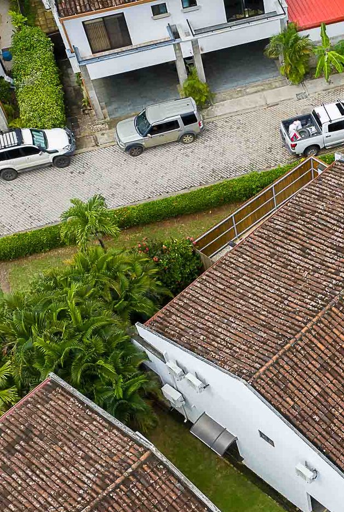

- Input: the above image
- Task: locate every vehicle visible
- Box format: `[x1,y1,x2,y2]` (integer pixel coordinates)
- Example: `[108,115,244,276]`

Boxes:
[0,125,79,183]
[278,95,344,155]
[111,93,205,158]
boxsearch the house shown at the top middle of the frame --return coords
[53,0,288,115]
